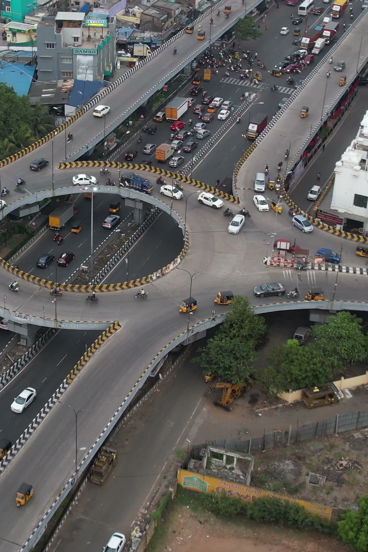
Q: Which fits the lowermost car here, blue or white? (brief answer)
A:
white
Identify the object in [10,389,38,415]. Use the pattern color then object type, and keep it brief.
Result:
white car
